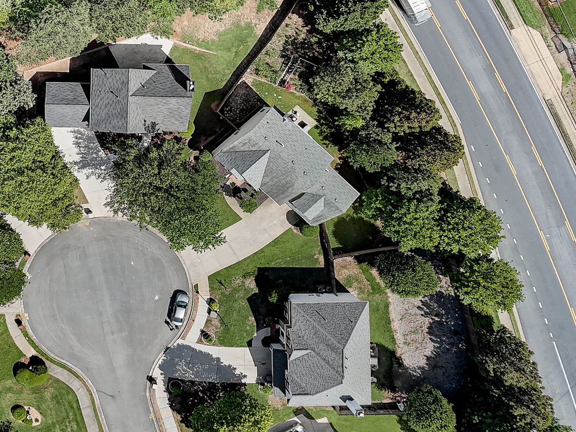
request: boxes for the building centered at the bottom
[270,291,372,418]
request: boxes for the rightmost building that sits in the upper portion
[213,106,360,226]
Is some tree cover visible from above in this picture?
Yes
